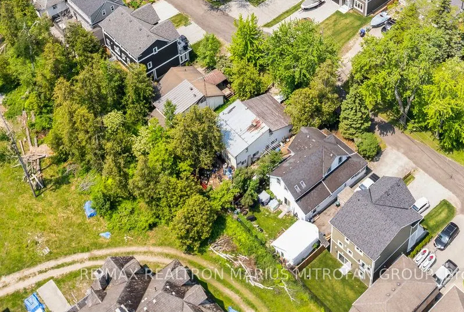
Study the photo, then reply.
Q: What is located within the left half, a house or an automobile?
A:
house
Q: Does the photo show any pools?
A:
No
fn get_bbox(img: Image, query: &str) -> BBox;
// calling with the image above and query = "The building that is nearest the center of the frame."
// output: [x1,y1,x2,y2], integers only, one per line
[214,95,288,162]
